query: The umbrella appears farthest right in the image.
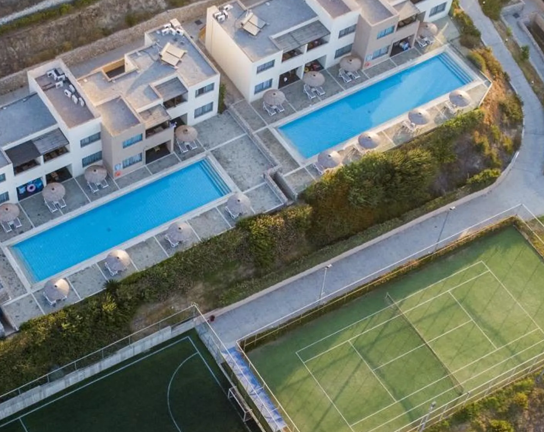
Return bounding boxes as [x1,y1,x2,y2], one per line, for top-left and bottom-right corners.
[445,90,470,112]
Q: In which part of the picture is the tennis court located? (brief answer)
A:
bottom right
